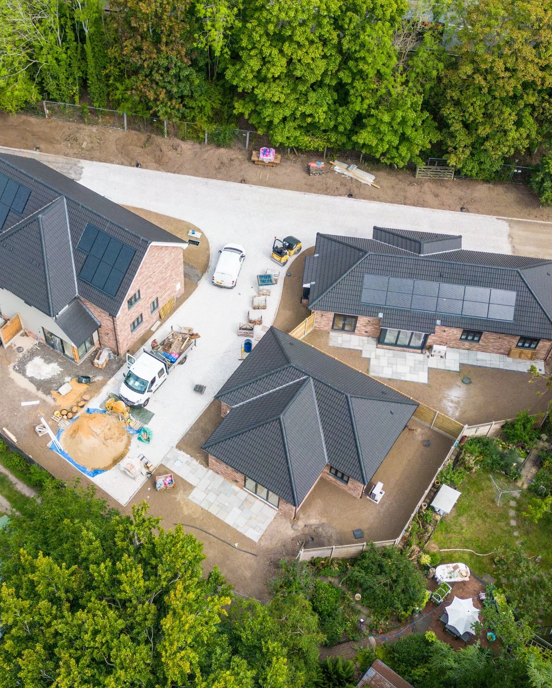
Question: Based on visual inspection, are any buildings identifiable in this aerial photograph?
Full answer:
Yes, the picture does show a building.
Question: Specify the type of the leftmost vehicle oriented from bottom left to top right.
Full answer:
Looking closely, the leftmost vehicle oriented from bottom left to top right is a truck.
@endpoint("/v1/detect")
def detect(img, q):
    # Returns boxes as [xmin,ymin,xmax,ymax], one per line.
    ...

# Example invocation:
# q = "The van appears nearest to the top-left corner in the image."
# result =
[211,245,244,291]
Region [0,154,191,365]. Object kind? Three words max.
house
